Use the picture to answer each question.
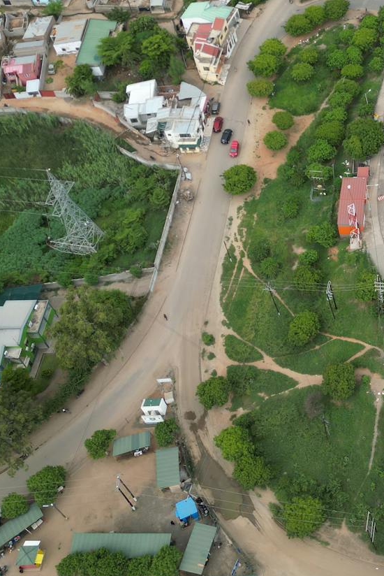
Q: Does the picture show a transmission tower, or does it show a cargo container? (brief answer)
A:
transmission tower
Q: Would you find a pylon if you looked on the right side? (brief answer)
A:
No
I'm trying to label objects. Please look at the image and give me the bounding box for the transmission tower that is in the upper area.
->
[39,166,104,257]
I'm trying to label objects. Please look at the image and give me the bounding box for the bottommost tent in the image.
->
[175,497,201,523]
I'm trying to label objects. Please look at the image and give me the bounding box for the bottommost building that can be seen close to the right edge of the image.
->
[338,177,370,233]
